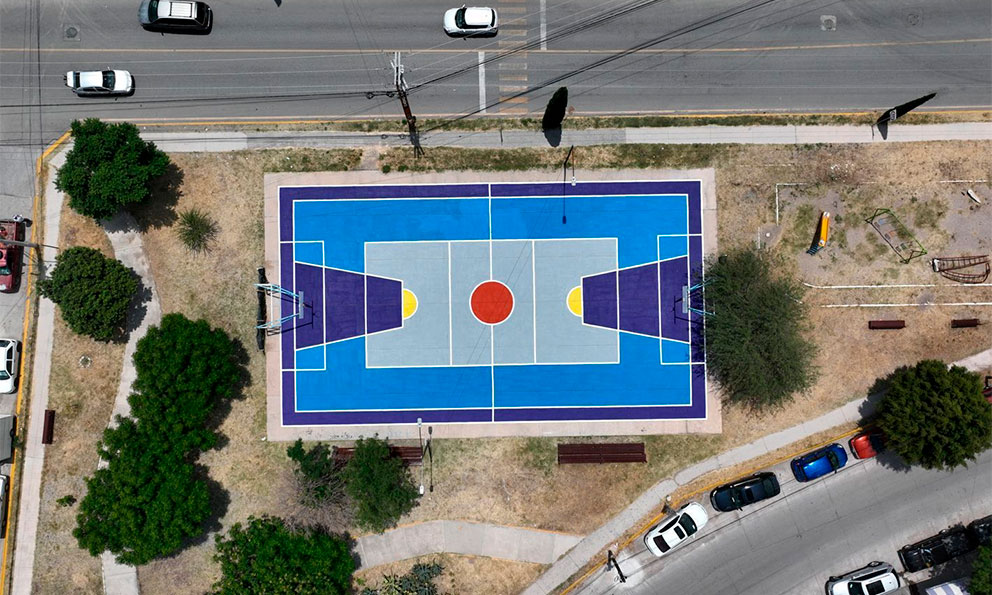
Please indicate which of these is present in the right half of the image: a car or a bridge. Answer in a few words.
car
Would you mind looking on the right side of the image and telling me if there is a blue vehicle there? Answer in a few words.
Yes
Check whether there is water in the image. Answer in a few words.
No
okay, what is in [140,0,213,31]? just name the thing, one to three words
car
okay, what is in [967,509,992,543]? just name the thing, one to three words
car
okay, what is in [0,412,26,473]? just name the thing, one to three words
trailer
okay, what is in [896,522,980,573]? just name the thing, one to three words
truck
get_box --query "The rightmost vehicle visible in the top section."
[444,4,499,39]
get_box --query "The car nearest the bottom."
[823,558,898,595]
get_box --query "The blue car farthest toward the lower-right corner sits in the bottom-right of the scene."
[789,442,849,483]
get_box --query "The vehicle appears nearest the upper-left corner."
[63,68,136,100]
